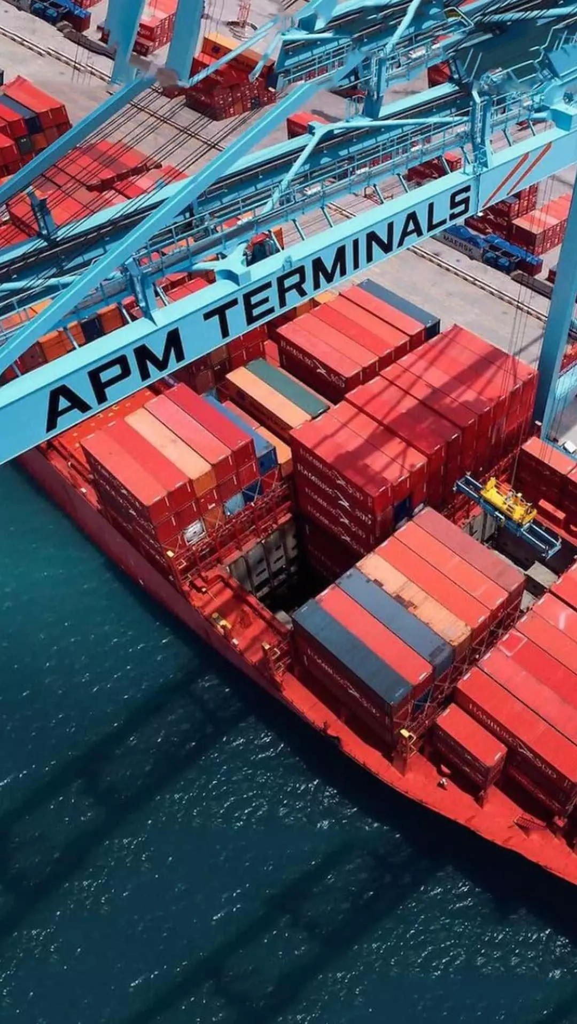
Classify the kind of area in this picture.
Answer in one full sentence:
What you see here is a port.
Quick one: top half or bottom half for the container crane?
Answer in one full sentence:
The top half of the photo is where the container crane is.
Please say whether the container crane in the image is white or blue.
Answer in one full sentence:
The container crane is blue.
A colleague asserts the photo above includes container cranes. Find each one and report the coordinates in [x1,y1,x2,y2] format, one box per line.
[0,0,577,465]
